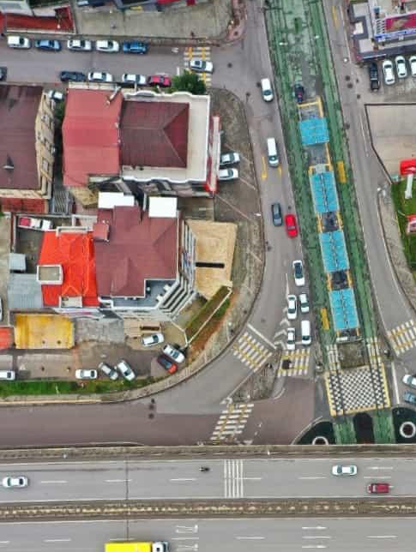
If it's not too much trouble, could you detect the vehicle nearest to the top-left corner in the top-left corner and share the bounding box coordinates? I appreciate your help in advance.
[6,38,32,51]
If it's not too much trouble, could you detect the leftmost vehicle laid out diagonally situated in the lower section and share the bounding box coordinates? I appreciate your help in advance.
[98,361,119,382]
